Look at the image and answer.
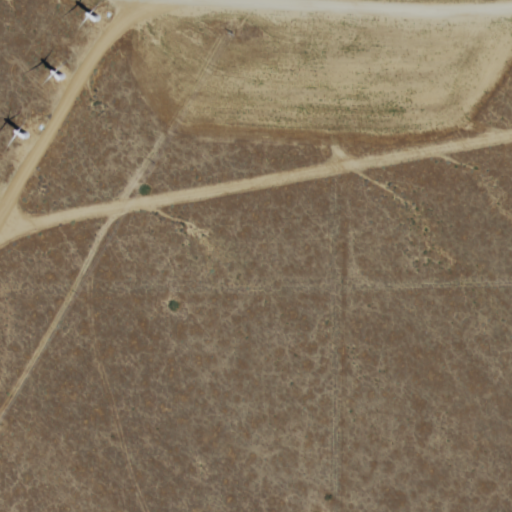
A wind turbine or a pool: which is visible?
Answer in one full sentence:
Of the two, only a wind turbine appears.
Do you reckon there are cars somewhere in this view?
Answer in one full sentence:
No, the photo shows no car.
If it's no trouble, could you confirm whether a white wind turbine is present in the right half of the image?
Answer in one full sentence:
No, no white wind turbine is visible in the right half of the image.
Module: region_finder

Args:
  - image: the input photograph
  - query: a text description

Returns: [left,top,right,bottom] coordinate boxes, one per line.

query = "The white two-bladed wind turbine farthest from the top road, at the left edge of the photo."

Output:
[4,116,31,148]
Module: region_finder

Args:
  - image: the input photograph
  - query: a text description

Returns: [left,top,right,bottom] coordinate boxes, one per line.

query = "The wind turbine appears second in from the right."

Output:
[40,59,67,86]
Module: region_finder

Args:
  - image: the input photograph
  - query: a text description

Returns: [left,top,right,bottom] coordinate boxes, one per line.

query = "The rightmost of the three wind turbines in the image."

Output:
[76,0,102,26]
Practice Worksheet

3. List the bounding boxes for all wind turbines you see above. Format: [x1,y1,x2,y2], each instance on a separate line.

[4,116,31,148]
[40,59,67,86]
[76,0,102,26]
